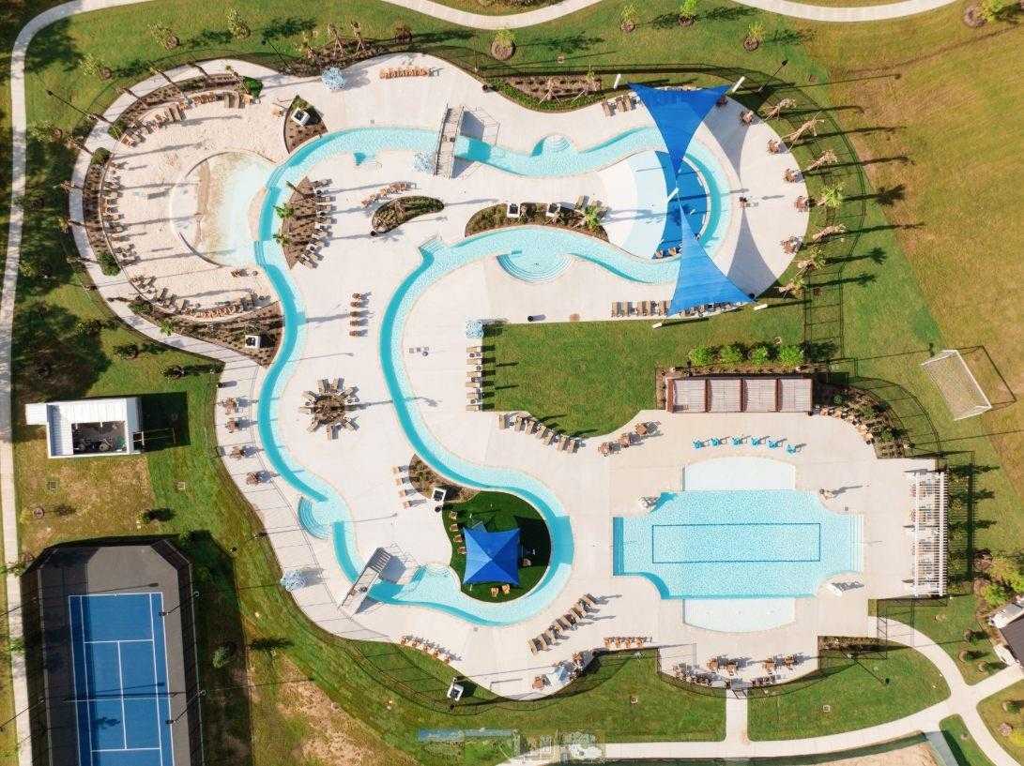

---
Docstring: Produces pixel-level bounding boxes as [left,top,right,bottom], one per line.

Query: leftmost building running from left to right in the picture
[28,399,155,458]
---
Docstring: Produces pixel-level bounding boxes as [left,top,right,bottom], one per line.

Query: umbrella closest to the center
[466,320,482,336]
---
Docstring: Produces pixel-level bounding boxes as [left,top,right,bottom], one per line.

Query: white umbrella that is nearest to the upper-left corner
[321,68,345,90]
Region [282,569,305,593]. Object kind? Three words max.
umbrella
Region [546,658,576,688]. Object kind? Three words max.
umbrella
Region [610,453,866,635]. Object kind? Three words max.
swimming pool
